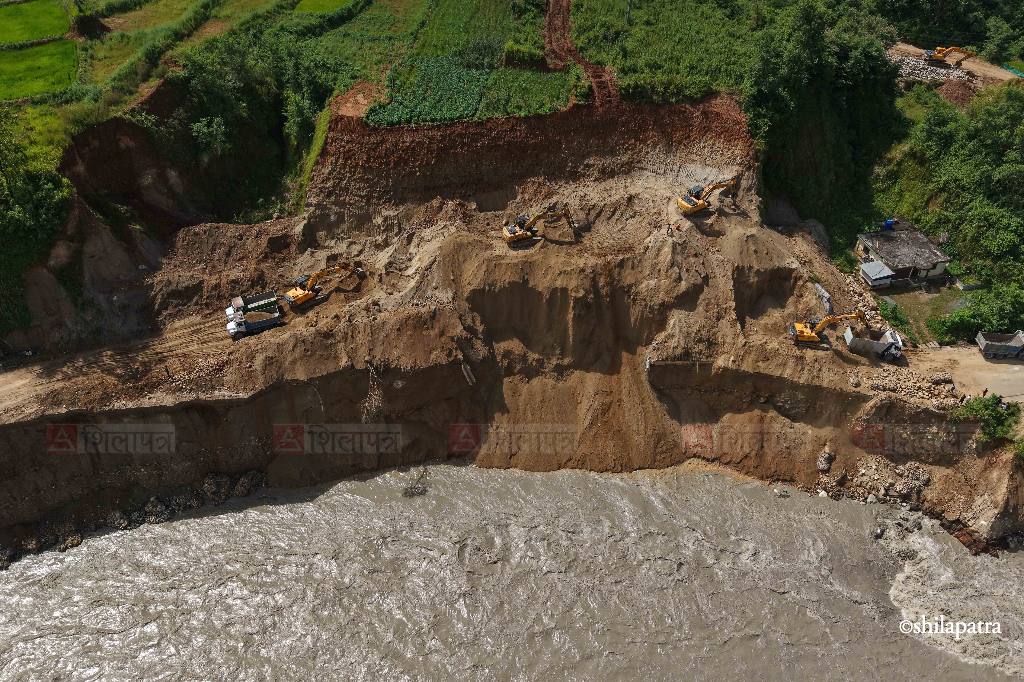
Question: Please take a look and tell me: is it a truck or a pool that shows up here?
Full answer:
This aerial view contains a truck.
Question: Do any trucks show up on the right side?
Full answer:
Yes, you'll find a truck on the right side.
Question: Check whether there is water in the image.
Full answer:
Yes, the picture does contain water.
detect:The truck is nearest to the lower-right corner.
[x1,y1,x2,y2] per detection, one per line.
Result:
[978,329,1024,360]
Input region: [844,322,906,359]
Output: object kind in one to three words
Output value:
truck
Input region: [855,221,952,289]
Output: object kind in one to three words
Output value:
house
